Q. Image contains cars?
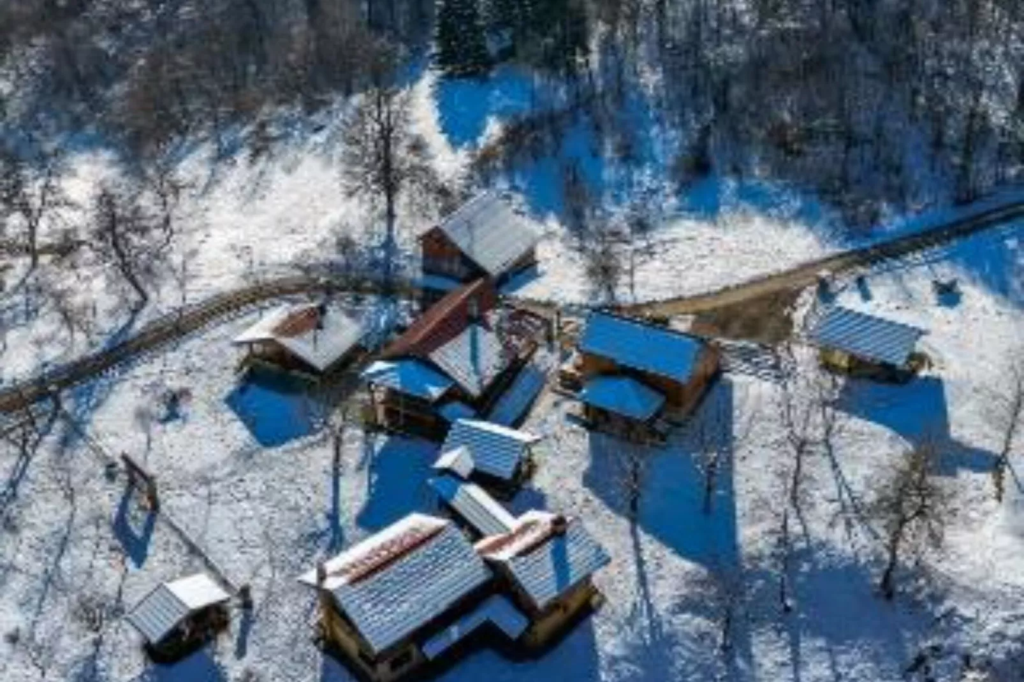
No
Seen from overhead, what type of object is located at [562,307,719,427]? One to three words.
house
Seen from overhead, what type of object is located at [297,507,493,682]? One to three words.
house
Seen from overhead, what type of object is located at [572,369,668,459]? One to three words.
building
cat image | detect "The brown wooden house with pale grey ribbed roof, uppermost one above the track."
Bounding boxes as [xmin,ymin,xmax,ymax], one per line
[404,192,537,314]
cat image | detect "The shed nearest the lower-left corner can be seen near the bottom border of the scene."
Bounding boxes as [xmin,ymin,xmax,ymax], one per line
[125,571,230,660]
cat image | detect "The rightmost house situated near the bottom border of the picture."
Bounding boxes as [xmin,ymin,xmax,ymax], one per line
[474,508,624,661]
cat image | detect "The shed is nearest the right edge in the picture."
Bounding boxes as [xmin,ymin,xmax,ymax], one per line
[816,304,922,392]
